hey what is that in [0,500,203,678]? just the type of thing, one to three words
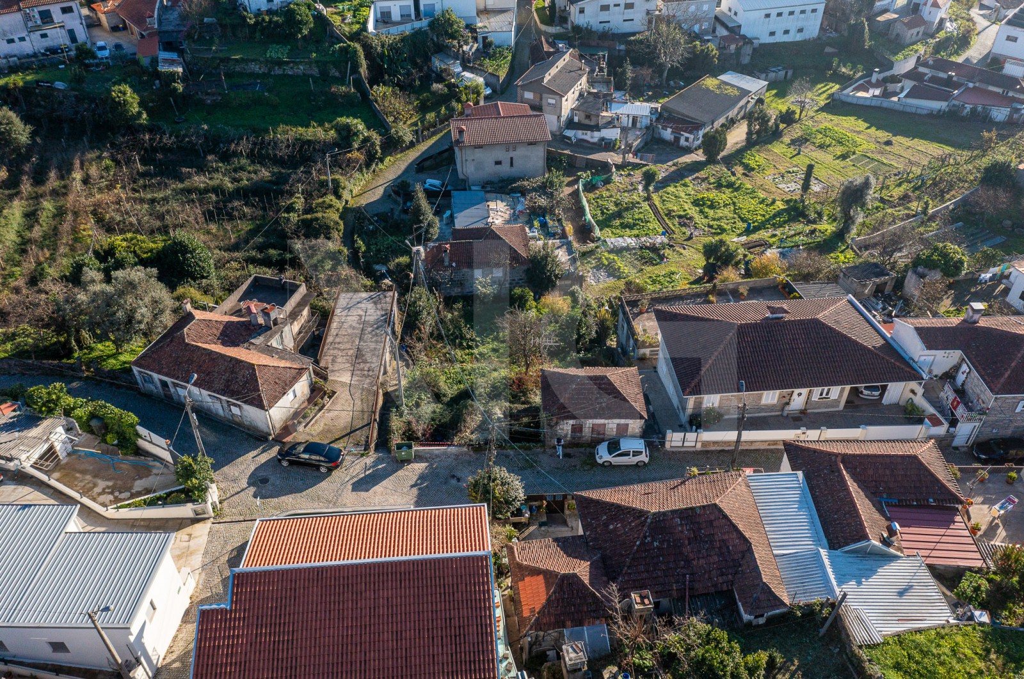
warehouse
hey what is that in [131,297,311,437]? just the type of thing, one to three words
house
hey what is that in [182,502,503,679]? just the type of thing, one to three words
building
